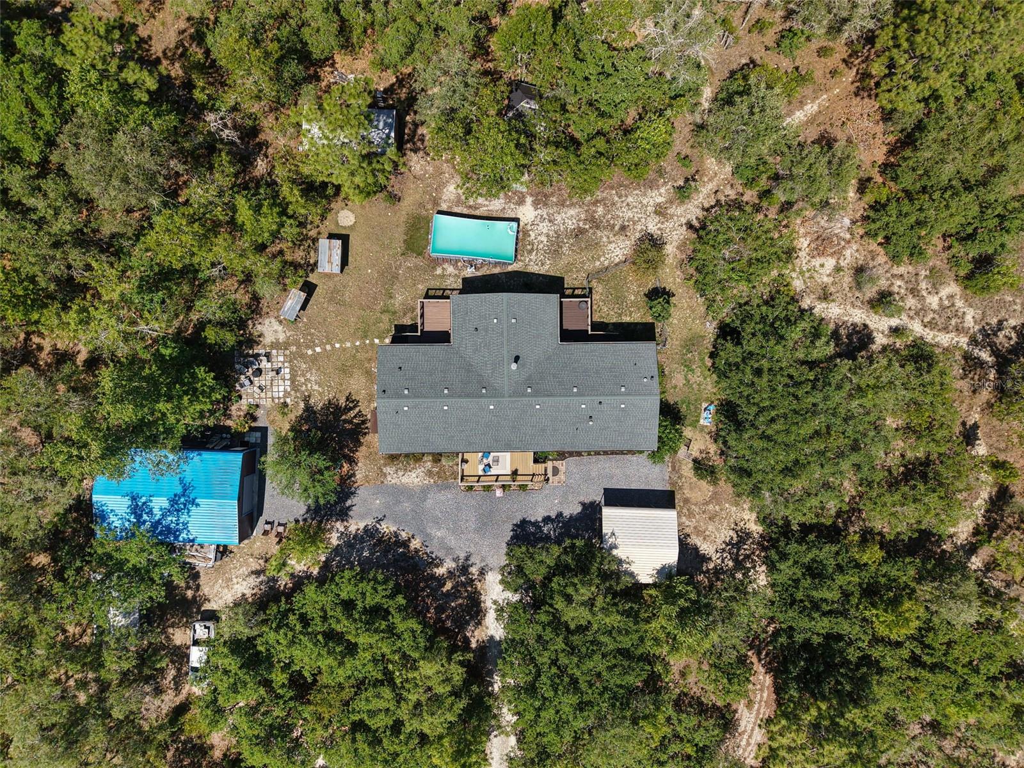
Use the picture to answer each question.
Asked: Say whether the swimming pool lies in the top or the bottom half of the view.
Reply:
top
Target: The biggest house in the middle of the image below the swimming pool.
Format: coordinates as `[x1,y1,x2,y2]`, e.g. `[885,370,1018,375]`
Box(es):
[376,293,659,454]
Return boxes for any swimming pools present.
[428,214,522,268]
